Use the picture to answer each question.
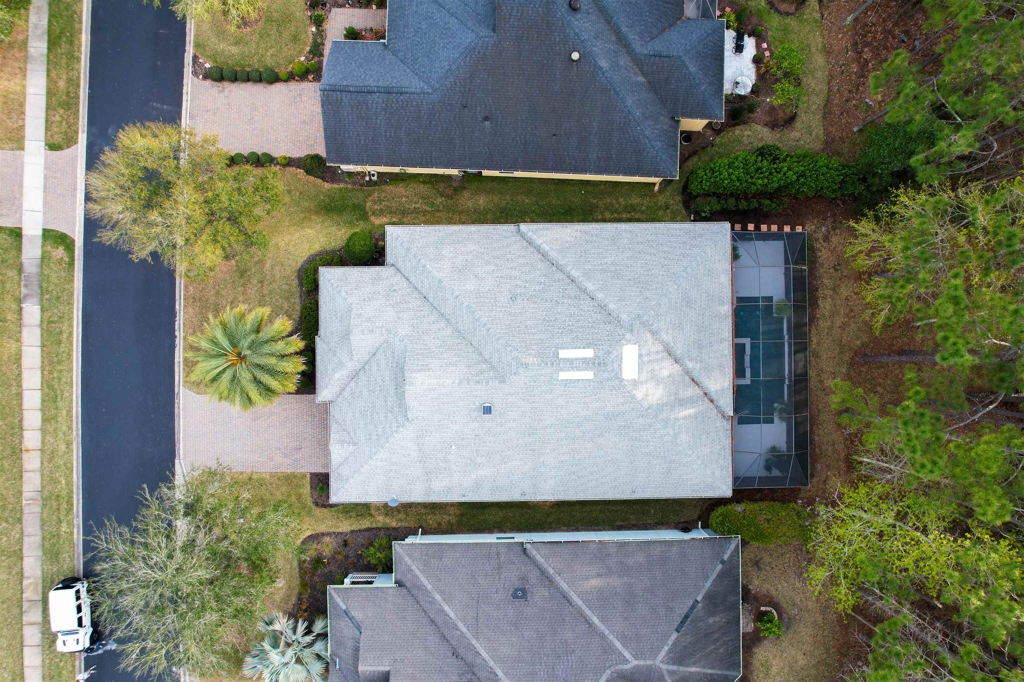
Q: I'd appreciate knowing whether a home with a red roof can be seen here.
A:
No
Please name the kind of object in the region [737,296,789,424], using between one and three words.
swimming pool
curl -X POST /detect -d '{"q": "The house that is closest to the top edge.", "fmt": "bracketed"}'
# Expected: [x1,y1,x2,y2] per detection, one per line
[320,0,726,191]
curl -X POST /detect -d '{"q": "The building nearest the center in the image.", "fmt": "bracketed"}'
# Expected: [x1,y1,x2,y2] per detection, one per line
[314,220,734,505]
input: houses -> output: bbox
[314,220,734,505]
[326,521,743,682]
[320,0,726,191]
